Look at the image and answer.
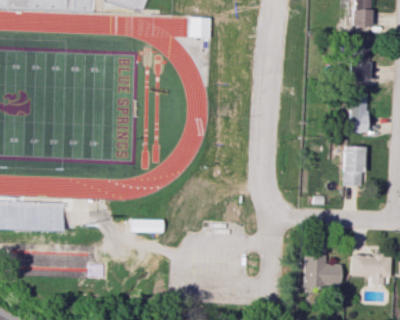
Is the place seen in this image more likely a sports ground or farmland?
sports ground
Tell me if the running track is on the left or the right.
left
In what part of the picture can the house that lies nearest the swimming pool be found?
bottom right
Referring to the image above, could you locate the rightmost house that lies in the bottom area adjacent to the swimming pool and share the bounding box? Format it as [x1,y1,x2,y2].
[350,256,392,286]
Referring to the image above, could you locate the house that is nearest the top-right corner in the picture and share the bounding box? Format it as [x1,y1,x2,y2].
[354,0,374,28]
